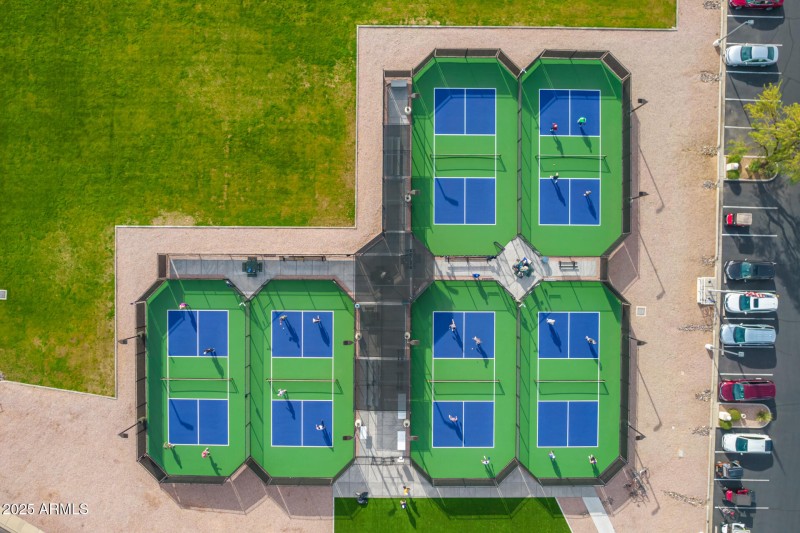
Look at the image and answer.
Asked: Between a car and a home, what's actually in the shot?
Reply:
car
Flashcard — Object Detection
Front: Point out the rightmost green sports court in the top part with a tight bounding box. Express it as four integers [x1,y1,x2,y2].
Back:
[520,59,622,256]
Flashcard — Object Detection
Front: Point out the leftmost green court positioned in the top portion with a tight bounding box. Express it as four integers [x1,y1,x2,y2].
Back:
[412,56,518,256]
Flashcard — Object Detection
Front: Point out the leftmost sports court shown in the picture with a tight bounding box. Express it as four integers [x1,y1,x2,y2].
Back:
[146,281,248,477]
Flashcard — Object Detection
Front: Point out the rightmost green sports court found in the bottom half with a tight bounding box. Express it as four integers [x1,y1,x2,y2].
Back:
[517,281,622,478]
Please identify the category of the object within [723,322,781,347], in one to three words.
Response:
car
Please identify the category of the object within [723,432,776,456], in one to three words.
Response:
car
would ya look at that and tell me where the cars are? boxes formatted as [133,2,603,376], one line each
[720,378,781,403]
[726,259,782,283]
[726,291,781,315]
[723,322,781,347]
[723,432,776,456]
[727,41,782,66]
[730,0,786,9]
